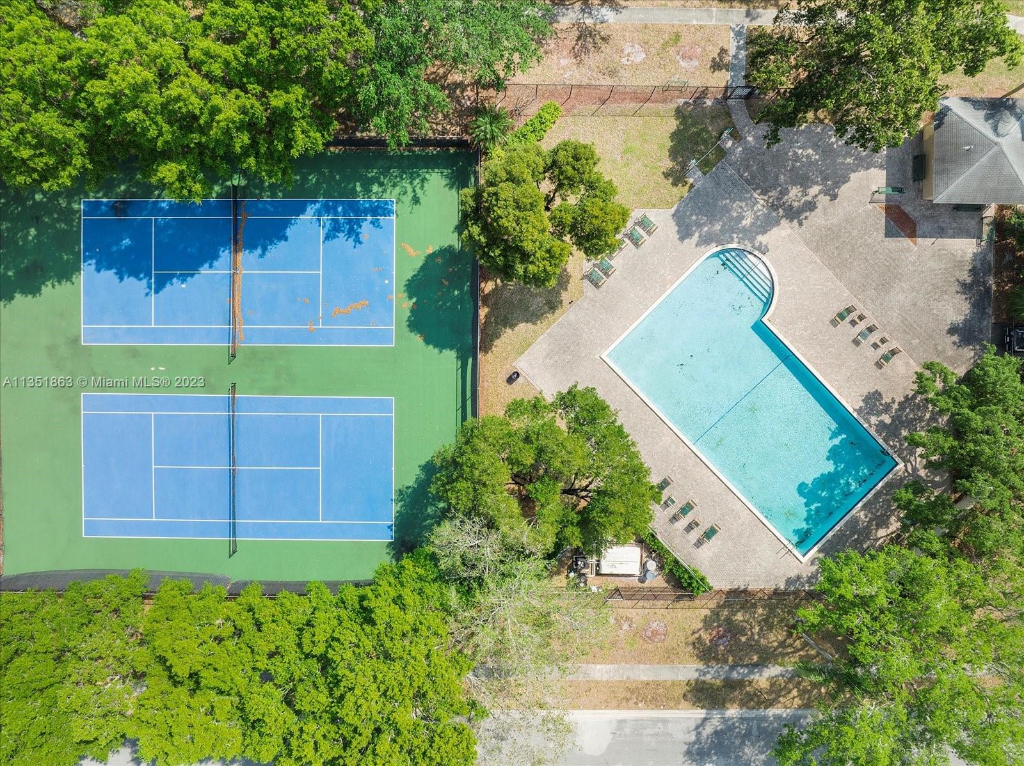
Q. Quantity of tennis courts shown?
two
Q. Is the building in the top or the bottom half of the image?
top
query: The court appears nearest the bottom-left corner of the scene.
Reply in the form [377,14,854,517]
[81,393,395,542]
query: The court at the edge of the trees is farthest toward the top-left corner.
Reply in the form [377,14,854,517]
[81,199,396,347]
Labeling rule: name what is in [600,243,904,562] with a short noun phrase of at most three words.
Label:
swimming pool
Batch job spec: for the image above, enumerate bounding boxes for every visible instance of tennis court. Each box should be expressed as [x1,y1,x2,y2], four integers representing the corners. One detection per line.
[81,393,395,542]
[81,199,396,347]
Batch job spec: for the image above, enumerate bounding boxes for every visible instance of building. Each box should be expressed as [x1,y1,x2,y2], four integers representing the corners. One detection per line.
[923,98,1024,205]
